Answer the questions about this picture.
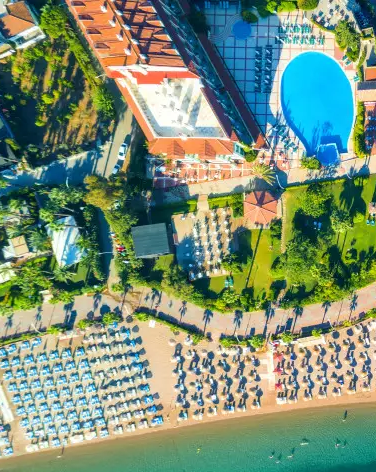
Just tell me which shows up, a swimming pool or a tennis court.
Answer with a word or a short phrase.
swimming pool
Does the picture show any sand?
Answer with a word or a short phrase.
Yes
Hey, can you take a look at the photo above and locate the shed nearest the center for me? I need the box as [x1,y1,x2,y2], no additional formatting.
[131,222,173,258]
